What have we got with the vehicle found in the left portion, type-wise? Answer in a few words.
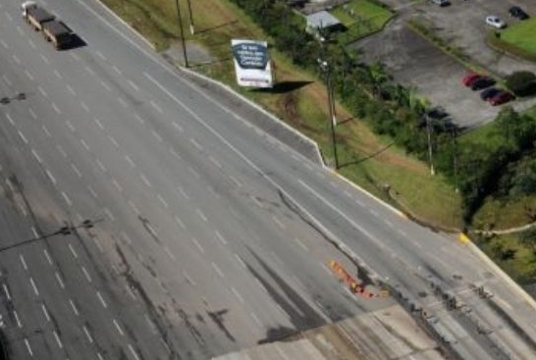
truck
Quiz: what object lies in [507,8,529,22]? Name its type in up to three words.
vehicle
